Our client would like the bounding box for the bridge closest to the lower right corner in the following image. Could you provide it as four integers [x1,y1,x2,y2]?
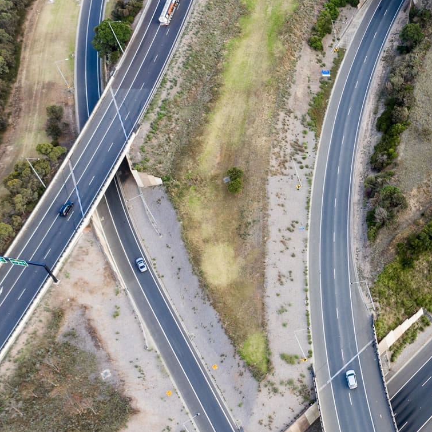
[306,304,400,432]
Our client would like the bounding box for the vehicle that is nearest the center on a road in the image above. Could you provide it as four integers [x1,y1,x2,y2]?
[135,255,149,273]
